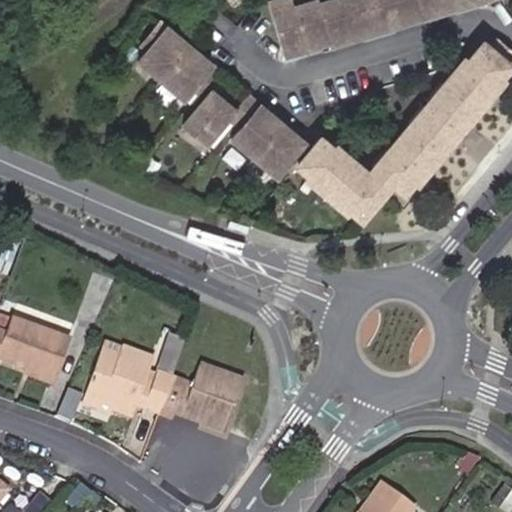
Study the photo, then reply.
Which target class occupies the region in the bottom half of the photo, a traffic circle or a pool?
traffic circle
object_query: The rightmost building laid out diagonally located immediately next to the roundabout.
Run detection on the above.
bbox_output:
[296,42,512,228]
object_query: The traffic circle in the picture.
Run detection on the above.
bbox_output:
[322,264,469,411]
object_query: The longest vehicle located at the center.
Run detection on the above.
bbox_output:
[185,226,246,255]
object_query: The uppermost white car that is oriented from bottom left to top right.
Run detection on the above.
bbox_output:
[252,18,270,38]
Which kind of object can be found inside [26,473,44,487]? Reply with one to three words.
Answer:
umbrella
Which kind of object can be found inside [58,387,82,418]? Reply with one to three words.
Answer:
building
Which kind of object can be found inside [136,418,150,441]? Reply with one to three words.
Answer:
car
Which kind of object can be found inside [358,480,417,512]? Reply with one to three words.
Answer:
house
